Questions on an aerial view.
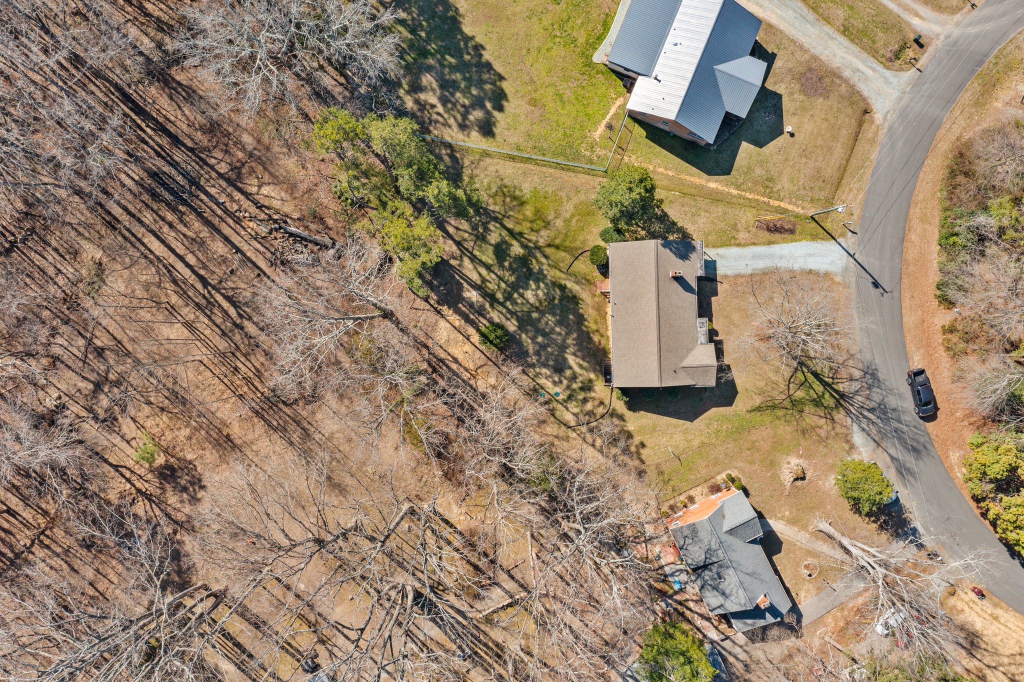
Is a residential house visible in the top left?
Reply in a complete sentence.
No, no residential house appears in the top left.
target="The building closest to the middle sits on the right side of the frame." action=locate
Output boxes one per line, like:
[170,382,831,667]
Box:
[608,240,717,388]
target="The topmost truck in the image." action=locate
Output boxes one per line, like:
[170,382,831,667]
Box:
[907,367,938,422]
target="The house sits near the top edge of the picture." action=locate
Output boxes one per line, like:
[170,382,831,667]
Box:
[608,0,767,155]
